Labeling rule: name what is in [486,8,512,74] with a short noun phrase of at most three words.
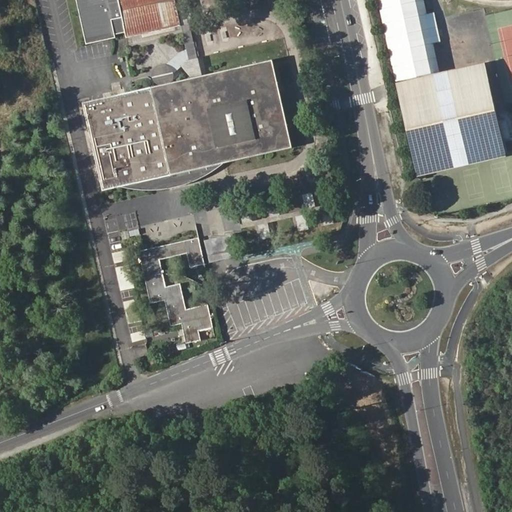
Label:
sports court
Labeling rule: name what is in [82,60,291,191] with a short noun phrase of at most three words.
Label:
building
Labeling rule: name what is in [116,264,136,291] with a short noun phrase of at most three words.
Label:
building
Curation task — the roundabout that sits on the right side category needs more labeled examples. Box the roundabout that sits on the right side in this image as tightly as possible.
[319,216,480,374]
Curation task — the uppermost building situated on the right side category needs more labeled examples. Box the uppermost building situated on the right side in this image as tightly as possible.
[380,0,441,82]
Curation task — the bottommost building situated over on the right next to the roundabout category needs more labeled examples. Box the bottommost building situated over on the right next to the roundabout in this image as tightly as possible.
[396,62,507,176]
